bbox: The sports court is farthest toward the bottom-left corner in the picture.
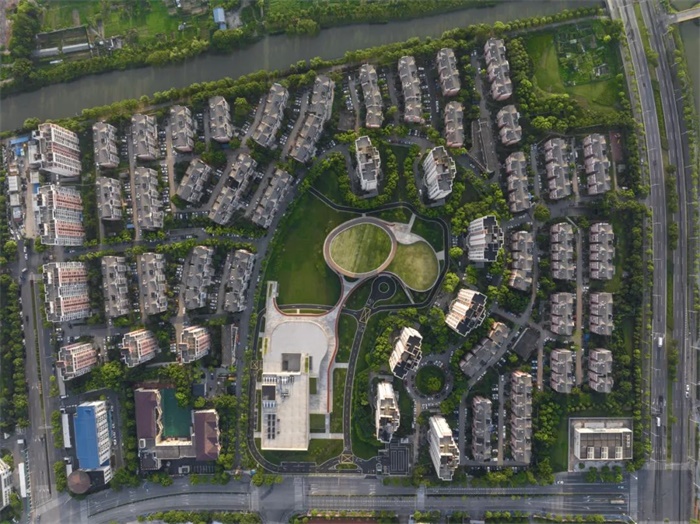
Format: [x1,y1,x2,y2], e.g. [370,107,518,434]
[162,386,193,437]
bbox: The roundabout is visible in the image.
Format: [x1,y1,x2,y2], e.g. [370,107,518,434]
[407,357,453,402]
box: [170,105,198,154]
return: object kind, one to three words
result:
building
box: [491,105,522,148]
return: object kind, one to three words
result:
building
